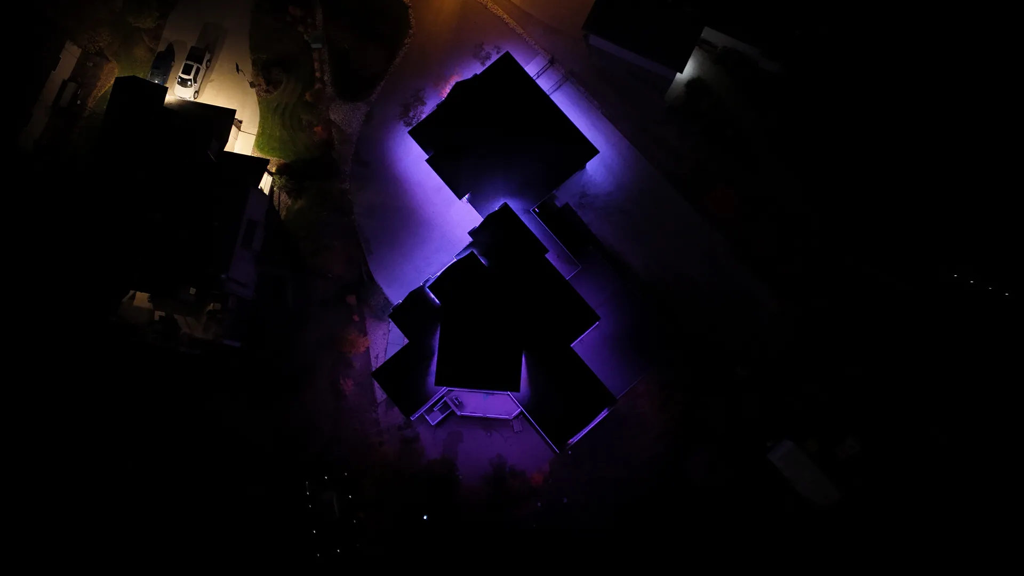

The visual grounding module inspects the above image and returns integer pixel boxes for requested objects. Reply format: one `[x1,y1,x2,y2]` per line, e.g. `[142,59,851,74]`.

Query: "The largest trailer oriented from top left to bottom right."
[765,432,843,513]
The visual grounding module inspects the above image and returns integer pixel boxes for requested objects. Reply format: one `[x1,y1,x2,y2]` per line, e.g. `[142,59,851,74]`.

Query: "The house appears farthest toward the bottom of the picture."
[372,190,617,454]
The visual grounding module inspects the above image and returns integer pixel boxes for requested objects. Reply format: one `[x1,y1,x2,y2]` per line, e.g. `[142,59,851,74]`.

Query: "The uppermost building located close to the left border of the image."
[0,0,82,161]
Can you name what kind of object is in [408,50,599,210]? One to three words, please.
building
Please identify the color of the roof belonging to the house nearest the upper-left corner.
black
